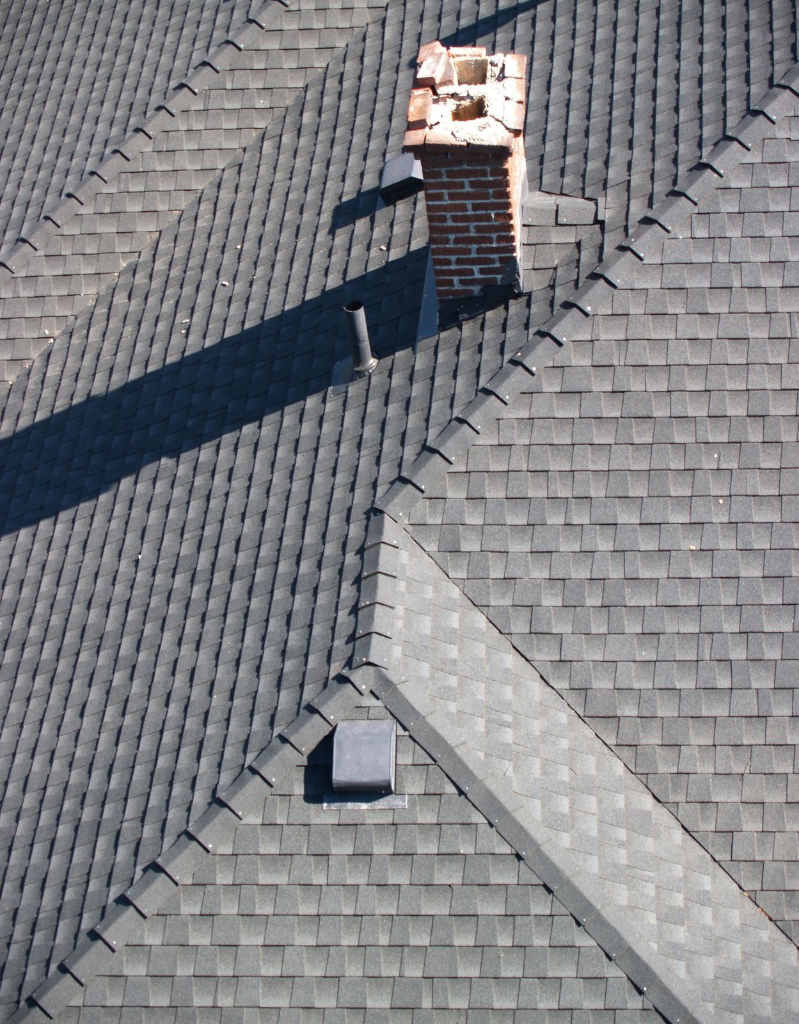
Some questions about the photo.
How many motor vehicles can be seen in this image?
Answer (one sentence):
The count of motor vehicles is 0.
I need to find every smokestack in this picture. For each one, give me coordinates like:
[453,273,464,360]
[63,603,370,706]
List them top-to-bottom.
[404,46,530,349]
